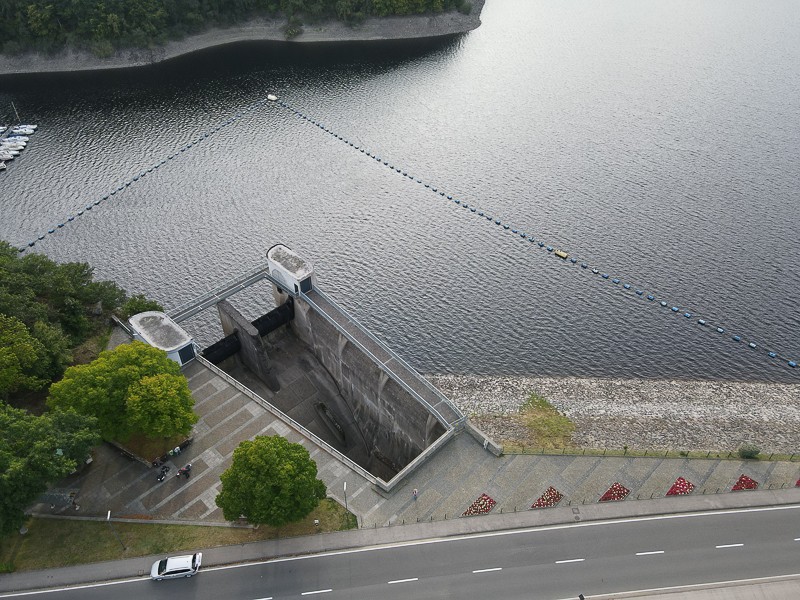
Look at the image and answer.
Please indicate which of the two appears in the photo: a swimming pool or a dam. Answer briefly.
dam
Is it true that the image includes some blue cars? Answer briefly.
No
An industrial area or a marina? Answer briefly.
marina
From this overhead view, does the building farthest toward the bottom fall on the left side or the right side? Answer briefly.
left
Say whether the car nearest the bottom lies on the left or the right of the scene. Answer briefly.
left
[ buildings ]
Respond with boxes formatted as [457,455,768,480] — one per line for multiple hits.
[134,306,196,370]
[262,244,314,293]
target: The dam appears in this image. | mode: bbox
[195,262,467,532]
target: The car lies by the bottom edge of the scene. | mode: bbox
[152,552,204,580]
